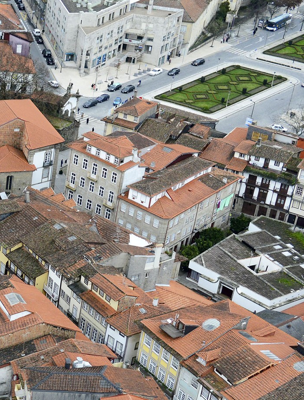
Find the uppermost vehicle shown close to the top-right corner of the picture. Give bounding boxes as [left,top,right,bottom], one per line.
[266,12,294,32]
